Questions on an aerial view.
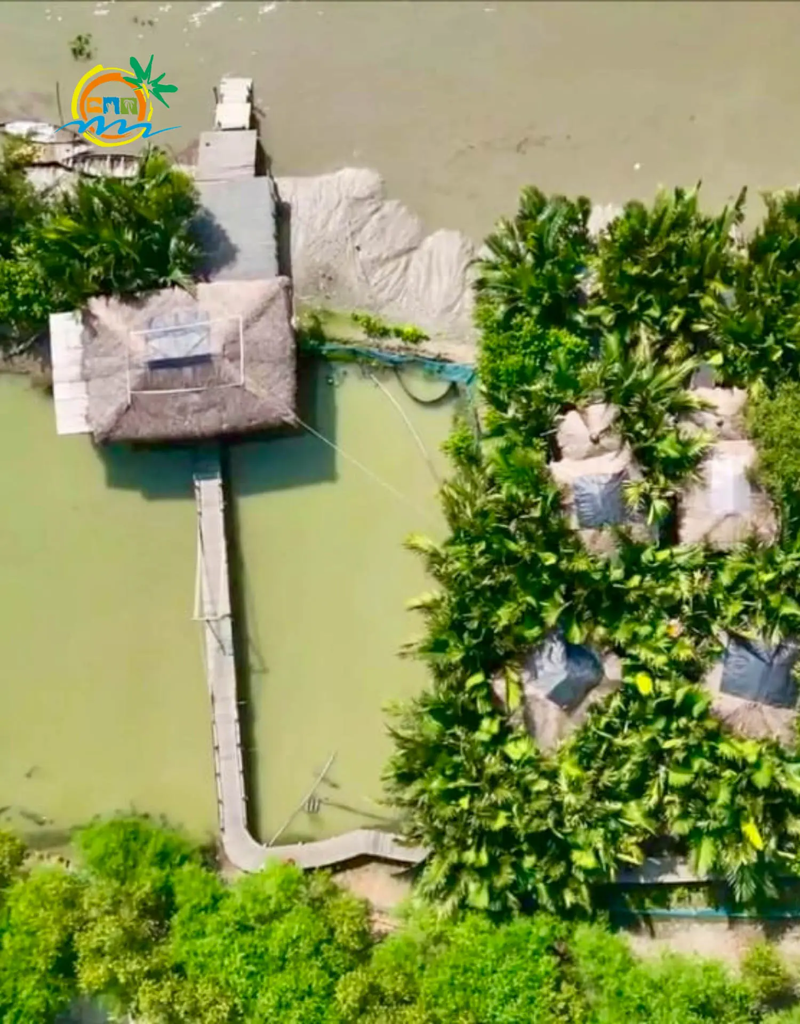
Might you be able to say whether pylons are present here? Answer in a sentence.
No, the scene contains no pylon.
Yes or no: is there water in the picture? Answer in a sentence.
Yes, the picture does contain water.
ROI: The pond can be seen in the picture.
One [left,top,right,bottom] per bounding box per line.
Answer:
[0,352,485,856]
